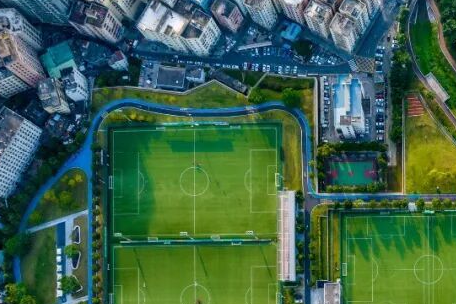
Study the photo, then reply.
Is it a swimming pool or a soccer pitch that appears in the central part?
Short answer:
soccer pitch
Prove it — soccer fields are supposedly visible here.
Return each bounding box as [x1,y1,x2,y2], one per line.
[343,211,456,304]
[111,244,280,304]
[111,126,280,237]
